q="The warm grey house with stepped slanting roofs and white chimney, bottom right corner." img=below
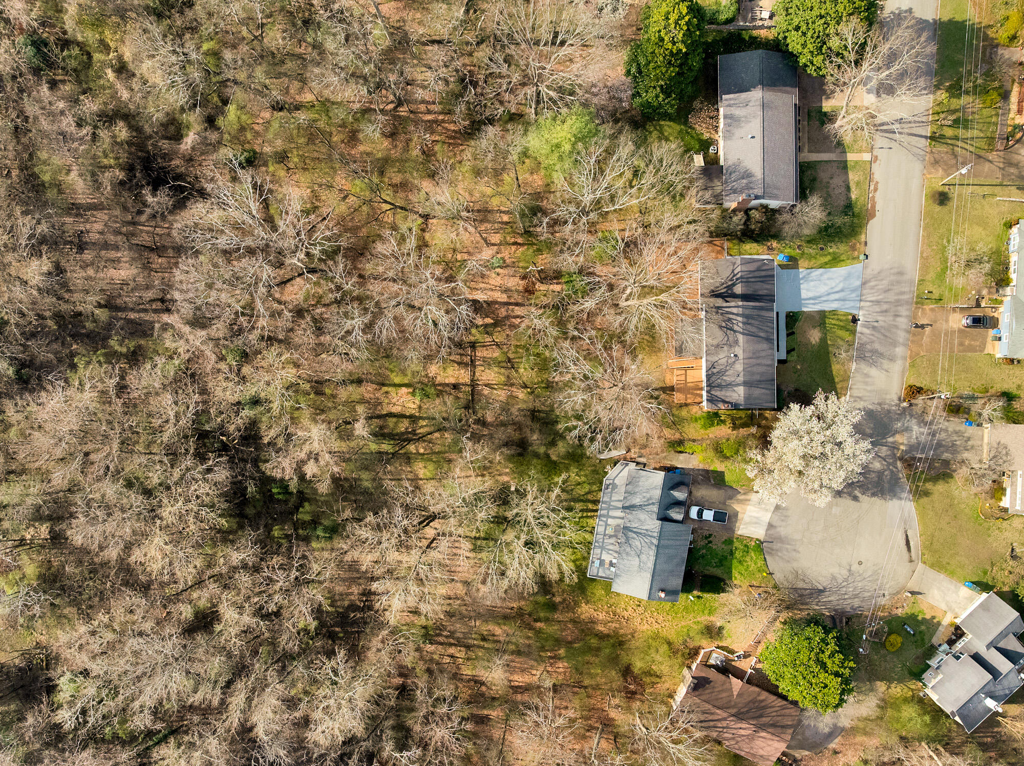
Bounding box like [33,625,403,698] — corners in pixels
[913,590,1024,726]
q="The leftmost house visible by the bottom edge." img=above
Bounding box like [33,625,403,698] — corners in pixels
[664,638,795,764]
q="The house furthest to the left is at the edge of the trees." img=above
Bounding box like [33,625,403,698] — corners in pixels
[585,459,691,602]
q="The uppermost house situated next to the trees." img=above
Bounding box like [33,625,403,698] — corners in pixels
[691,49,798,214]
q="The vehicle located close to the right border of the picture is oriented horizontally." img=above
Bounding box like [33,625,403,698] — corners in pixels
[962,314,996,329]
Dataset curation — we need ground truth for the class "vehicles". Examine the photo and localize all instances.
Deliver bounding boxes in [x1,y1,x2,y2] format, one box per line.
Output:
[688,506,729,524]
[962,314,996,329]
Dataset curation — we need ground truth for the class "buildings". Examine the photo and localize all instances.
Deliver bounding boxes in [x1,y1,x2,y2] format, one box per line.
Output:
[980,424,1024,513]
[585,459,691,602]
[664,638,795,764]
[913,590,1024,726]
[666,258,786,410]
[992,220,1024,358]
[691,49,798,214]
